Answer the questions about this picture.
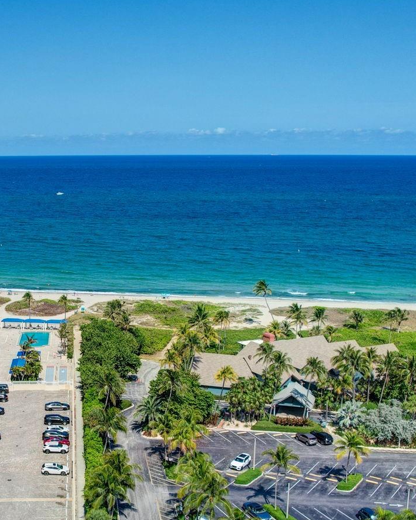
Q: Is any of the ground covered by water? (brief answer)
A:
Yes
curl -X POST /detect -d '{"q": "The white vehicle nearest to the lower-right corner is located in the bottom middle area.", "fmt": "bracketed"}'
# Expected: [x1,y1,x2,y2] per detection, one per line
[230,452,251,470]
